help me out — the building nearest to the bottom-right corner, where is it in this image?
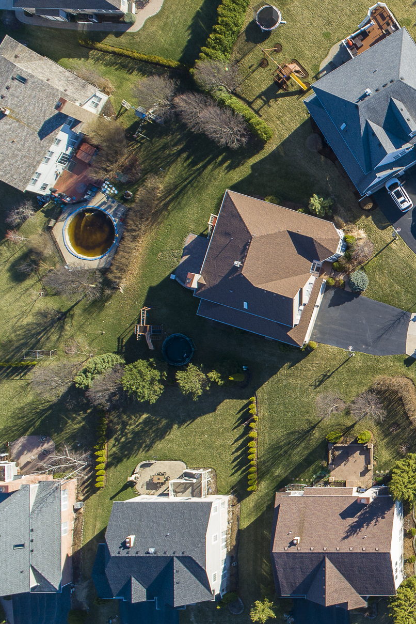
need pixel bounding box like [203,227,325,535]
[270,484,402,610]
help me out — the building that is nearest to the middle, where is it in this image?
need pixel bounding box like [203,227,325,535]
[184,189,345,349]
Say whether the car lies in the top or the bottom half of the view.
top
